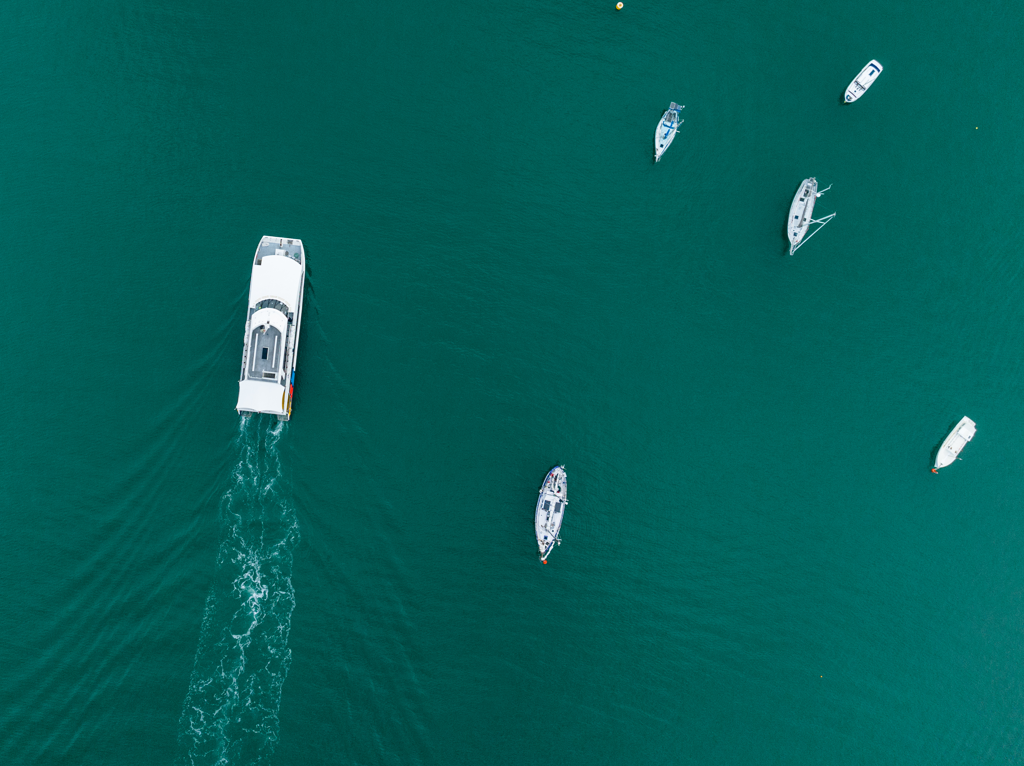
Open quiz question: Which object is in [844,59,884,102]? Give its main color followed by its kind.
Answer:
white boat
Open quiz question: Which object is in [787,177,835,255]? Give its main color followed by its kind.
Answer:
white boat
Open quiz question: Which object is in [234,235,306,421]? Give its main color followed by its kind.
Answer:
white ship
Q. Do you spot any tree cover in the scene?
No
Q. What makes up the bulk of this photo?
water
